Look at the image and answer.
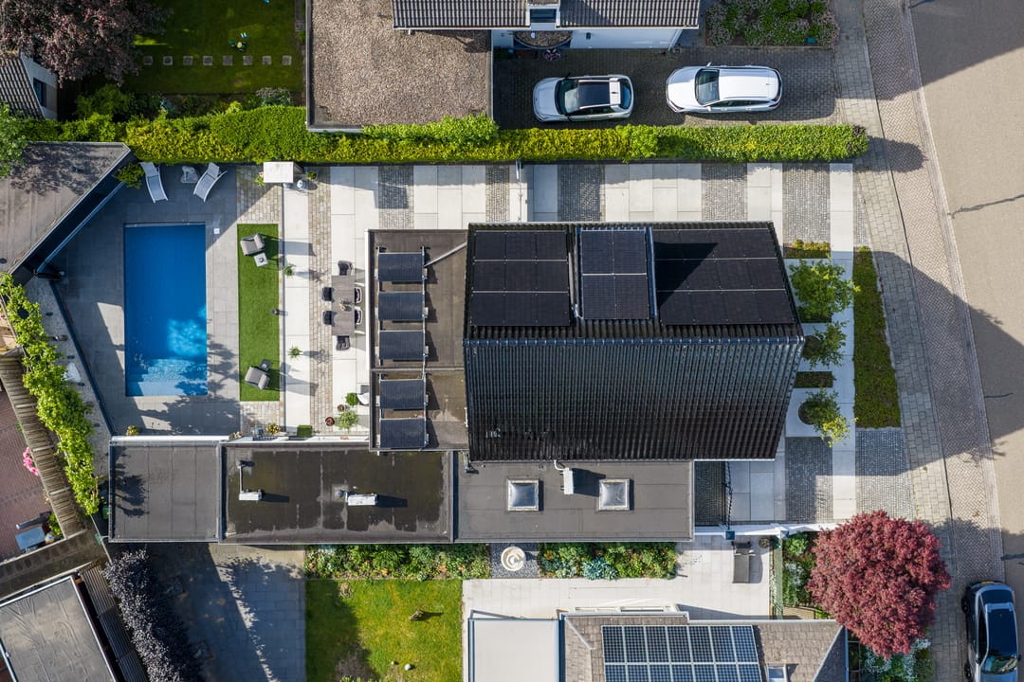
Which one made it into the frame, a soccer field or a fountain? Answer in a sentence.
Of the two, only a fountain appears.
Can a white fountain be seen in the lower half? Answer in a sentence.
Yes, in the lower half there is a white fountain.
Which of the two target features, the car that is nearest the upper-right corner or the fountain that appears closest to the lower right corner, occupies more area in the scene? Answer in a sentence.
Compared with the fountain, the car is the bigger one.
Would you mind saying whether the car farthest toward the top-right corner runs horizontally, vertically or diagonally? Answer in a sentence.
The car farthest toward the top-right corner runs horizontally in the image.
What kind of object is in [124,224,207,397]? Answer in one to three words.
swimming pool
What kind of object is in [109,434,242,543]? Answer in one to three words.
building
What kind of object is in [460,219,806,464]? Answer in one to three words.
house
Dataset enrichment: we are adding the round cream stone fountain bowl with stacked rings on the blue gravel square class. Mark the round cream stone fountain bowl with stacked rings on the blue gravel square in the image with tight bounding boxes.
[501,547,525,571]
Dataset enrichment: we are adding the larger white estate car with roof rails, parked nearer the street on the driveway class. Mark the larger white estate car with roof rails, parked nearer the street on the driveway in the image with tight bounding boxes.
[666,59,781,116]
